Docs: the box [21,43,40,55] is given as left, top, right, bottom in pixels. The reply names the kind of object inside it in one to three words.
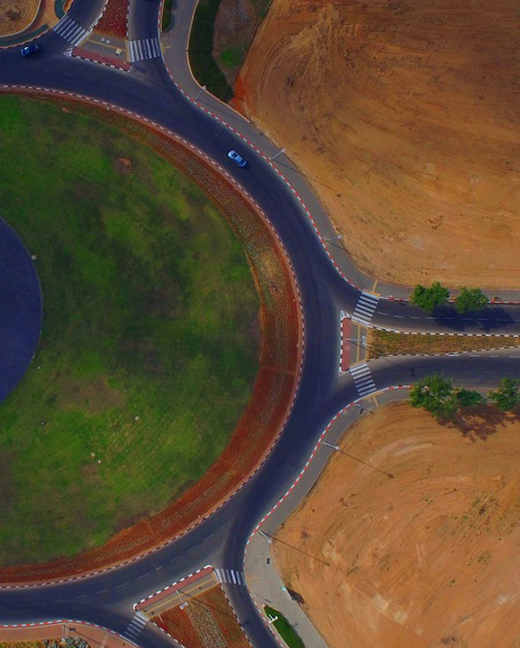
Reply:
vehicle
